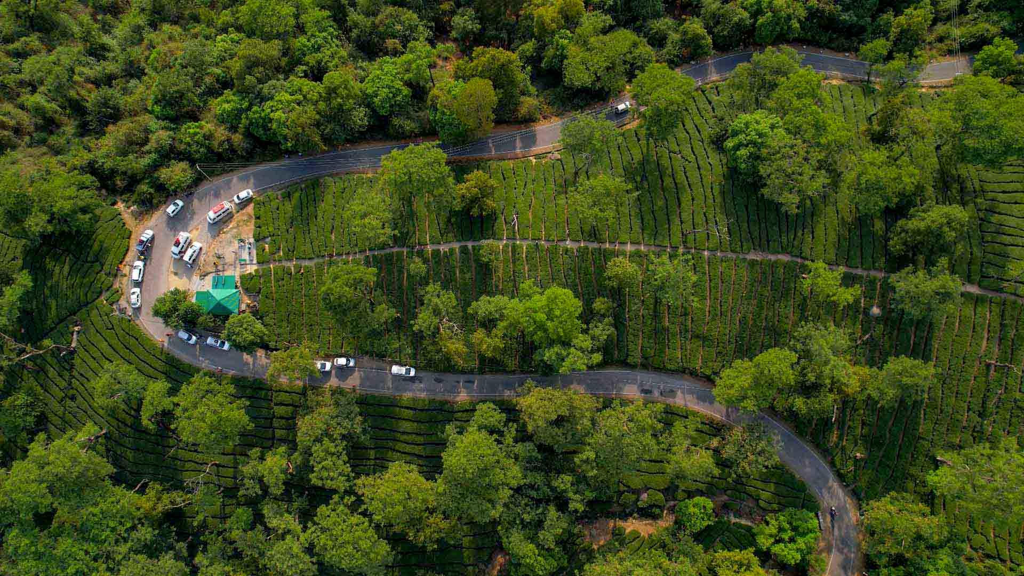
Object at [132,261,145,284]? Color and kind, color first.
white vehicle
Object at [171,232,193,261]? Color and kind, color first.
white vehicle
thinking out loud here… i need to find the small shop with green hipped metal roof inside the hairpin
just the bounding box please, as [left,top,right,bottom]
[192,276,242,317]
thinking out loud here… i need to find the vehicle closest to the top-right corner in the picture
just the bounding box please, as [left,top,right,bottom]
[613,103,632,117]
